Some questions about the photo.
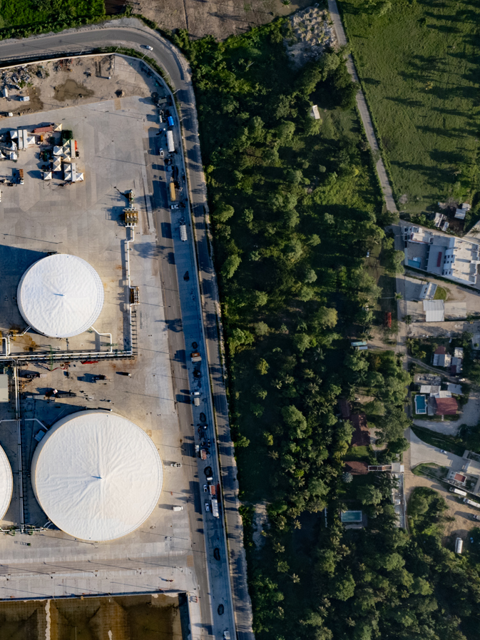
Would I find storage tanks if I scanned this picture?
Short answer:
Yes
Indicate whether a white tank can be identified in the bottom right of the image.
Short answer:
No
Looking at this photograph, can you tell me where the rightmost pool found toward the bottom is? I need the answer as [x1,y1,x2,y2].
[413,394,427,415]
